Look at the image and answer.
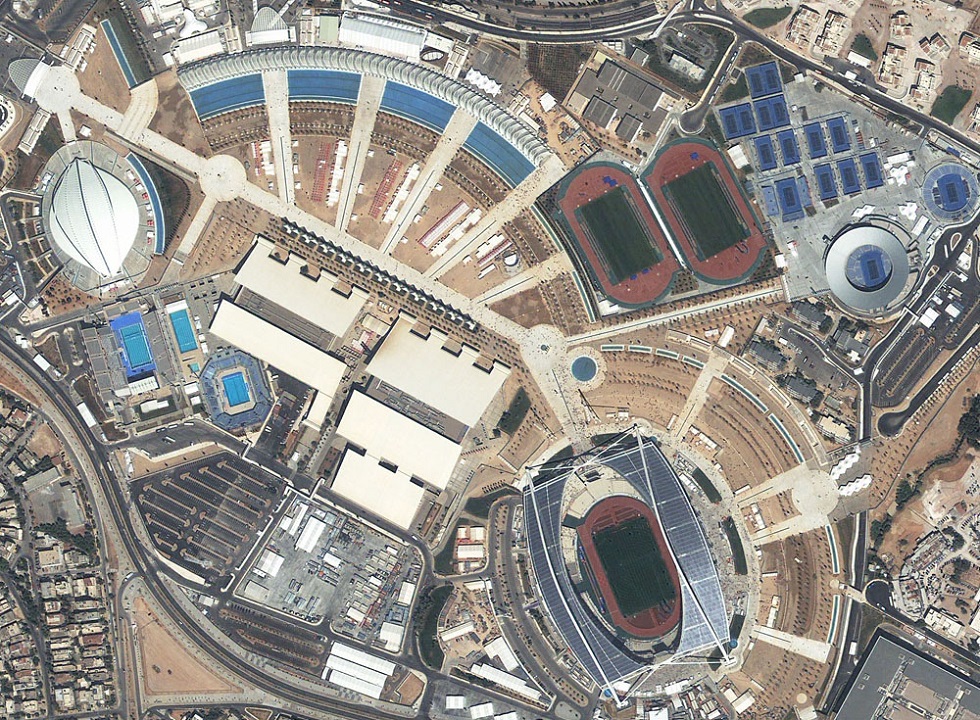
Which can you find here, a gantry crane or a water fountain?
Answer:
water fountain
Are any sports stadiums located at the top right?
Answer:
Yes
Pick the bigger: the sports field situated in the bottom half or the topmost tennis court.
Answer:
the sports field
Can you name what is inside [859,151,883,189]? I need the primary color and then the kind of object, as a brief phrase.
blue tennis court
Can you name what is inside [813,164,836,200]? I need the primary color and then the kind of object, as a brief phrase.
blue tennis court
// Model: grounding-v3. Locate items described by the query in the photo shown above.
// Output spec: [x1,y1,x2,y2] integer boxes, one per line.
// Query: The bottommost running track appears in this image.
[580,496,682,640]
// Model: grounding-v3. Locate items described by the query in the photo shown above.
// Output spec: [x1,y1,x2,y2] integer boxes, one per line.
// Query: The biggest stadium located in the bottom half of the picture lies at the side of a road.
[522,419,734,709]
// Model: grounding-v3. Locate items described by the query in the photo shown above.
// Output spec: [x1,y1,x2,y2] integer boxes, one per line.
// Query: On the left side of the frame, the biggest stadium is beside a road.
[199,350,273,431]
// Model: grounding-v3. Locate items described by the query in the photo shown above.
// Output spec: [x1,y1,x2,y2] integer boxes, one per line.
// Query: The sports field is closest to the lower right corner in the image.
[590,517,674,618]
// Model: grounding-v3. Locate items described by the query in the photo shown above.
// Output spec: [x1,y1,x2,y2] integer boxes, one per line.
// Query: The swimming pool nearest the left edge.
[110,312,155,377]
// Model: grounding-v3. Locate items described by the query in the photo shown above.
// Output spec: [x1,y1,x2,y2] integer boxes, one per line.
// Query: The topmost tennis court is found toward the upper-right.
[746,60,782,99]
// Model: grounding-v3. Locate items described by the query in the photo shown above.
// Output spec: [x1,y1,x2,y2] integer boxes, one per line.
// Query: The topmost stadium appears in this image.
[922,163,980,221]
